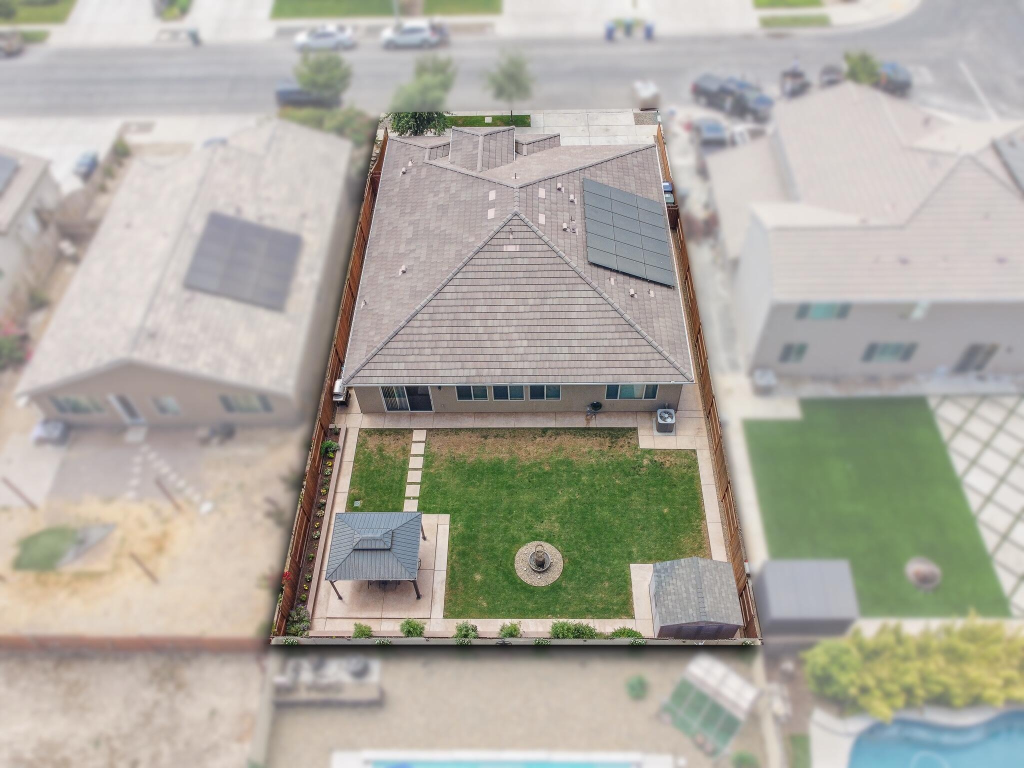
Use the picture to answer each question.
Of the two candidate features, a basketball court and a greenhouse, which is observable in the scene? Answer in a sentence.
The one in the frame is a greenhouse.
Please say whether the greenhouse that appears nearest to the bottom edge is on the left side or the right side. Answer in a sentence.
It is on the right.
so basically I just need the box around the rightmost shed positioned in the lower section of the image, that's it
[757,560,865,636]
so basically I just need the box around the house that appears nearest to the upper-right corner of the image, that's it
[704,83,1024,377]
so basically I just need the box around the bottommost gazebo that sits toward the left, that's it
[325,511,428,602]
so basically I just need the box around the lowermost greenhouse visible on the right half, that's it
[662,653,763,757]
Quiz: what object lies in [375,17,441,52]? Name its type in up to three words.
car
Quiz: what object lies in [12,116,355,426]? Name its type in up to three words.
house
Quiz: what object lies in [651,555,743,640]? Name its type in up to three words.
shed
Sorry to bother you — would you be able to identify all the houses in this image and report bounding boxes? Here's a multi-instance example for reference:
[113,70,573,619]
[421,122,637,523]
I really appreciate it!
[704,83,1024,377]
[12,116,355,426]
[0,135,67,312]
[340,124,696,413]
